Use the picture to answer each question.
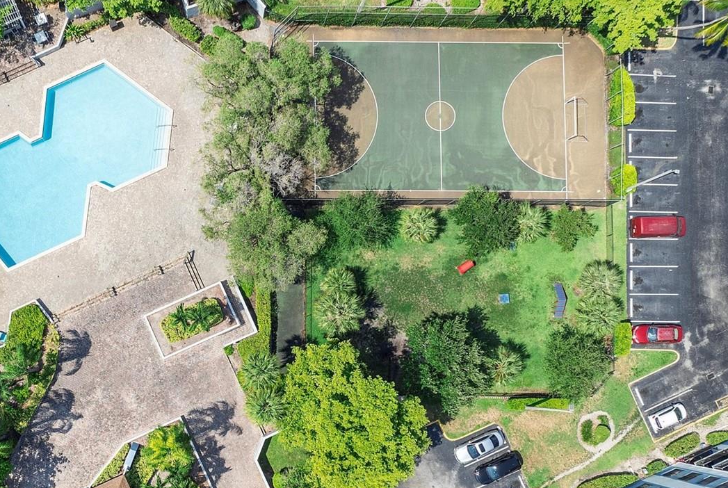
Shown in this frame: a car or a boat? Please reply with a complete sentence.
Looking from above, you can make out a car.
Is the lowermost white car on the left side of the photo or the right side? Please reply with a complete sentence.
You can find the lowermost white car on the right side of the picture.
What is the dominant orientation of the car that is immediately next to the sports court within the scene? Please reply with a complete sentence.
The car that is immediately next to the sports court is laid out from left to right.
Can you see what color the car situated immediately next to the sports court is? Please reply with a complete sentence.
The car situated immediately next to the sports court is red.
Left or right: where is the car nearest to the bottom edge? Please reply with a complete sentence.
You can find the car nearest to the bottom edge on the right side of the picture.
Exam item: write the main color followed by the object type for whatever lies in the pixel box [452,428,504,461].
white car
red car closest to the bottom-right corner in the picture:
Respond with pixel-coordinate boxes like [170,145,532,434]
[635,324,681,346]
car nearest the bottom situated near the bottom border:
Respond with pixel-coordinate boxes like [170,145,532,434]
[470,450,524,484]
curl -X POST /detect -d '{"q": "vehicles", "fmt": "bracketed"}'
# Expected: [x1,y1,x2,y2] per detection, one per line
[452,428,504,461]
[470,450,524,484]
[626,214,685,238]
[635,324,681,346]
[643,403,687,433]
